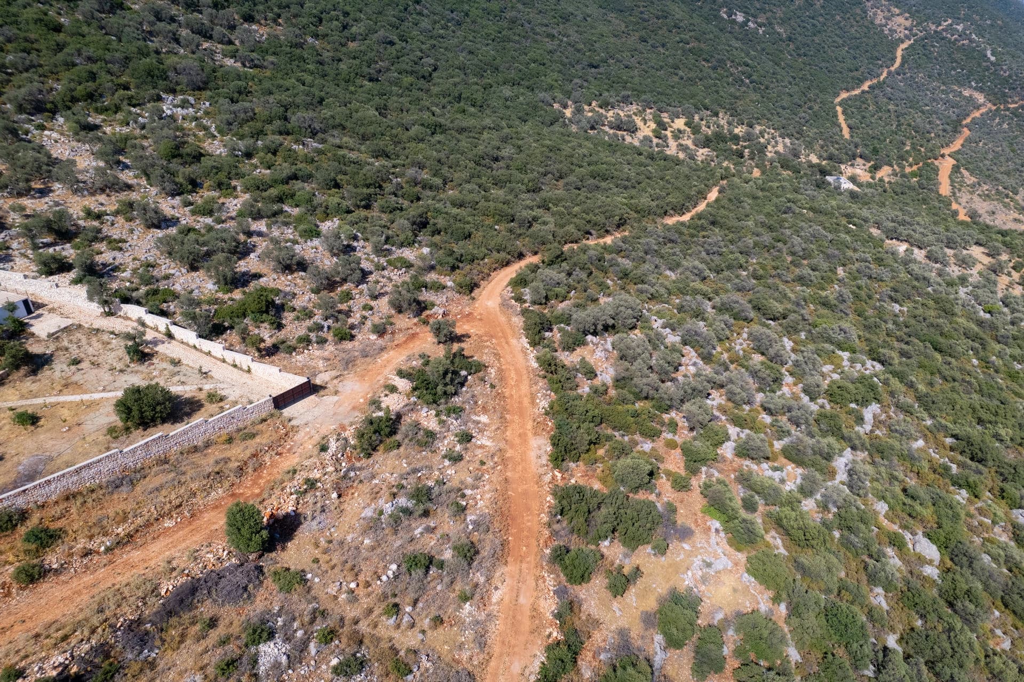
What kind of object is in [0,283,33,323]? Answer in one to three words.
house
